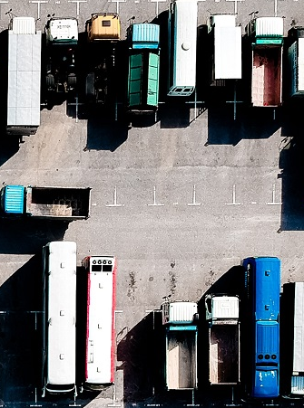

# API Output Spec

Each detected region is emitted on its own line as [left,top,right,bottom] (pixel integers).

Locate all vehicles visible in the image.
[0,182,90,221]
[243,10,286,110]
[4,10,40,133]
[79,256,116,394]
[159,293,200,390]
[81,6,122,103]
[240,256,281,404]
[43,12,81,92]
[164,0,198,106]
[202,7,241,86]
[122,16,163,119]
[203,289,240,385]
[41,240,77,395]
[281,282,304,397]
[283,20,304,99]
